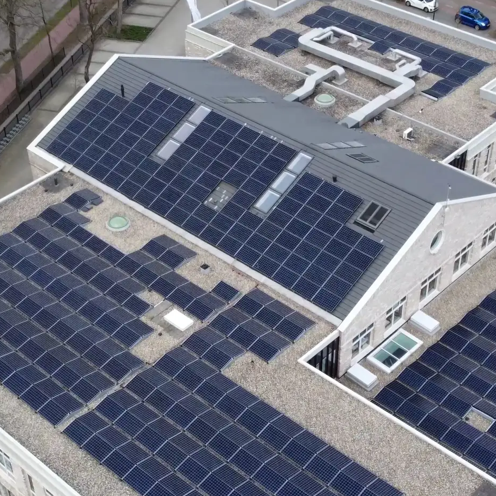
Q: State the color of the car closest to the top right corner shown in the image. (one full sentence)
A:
From above, the car closest to the top right corner appears blue.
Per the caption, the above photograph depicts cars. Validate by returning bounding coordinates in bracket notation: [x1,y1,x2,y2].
[408,0,440,10]
[459,5,494,29]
